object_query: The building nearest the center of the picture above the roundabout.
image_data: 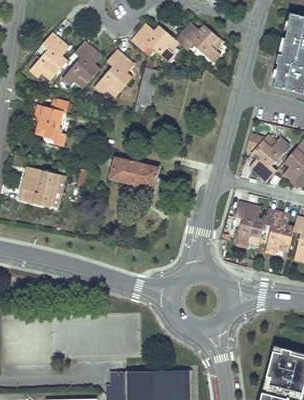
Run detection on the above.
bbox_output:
[108,157,158,187]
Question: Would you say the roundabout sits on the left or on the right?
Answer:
right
